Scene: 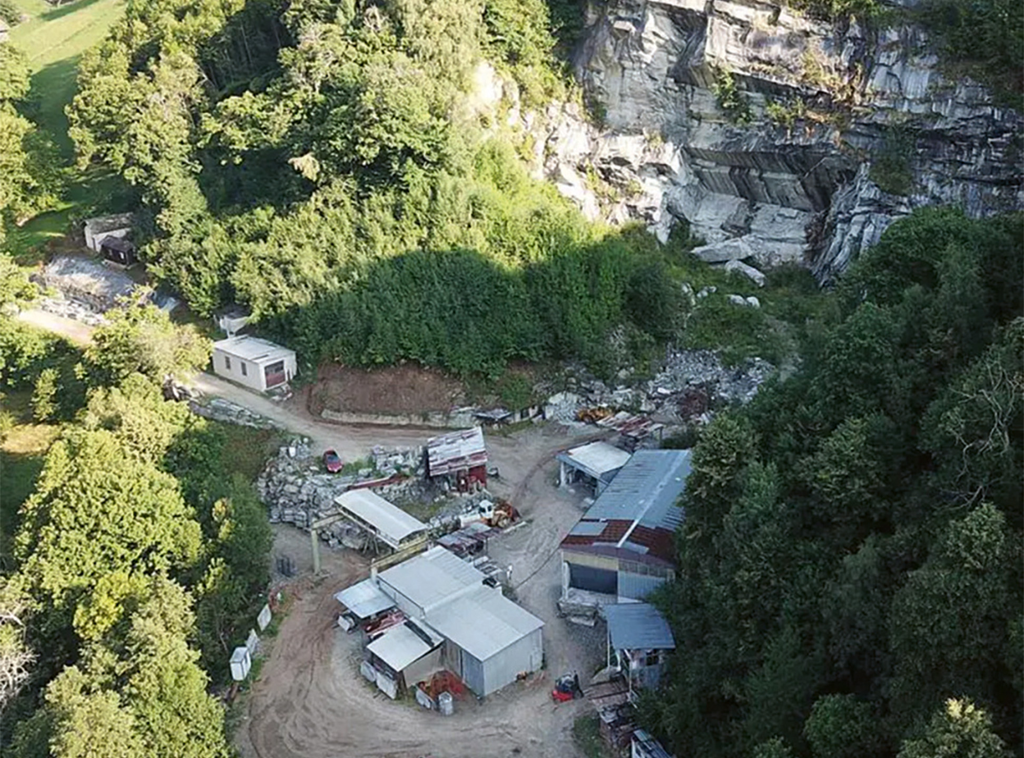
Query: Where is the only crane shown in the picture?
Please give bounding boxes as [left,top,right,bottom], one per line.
[309,490,444,614]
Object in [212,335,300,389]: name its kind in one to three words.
building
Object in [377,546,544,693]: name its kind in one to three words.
building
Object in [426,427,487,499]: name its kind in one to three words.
shed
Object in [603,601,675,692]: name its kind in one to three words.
shed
